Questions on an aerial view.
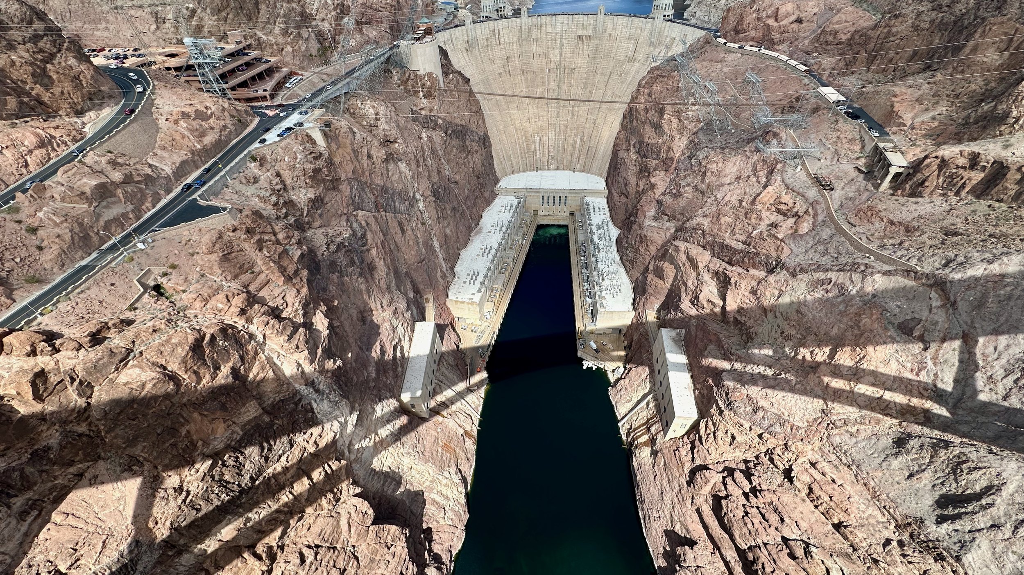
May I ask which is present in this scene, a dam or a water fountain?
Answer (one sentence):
It is a dam that can be seen here.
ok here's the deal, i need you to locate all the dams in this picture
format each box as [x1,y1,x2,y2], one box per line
[432,10,726,206]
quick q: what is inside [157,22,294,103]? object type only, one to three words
building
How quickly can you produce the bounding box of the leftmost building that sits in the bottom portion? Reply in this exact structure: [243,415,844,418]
[401,322,441,423]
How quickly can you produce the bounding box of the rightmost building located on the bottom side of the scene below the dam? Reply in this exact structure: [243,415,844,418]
[645,328,697,446]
